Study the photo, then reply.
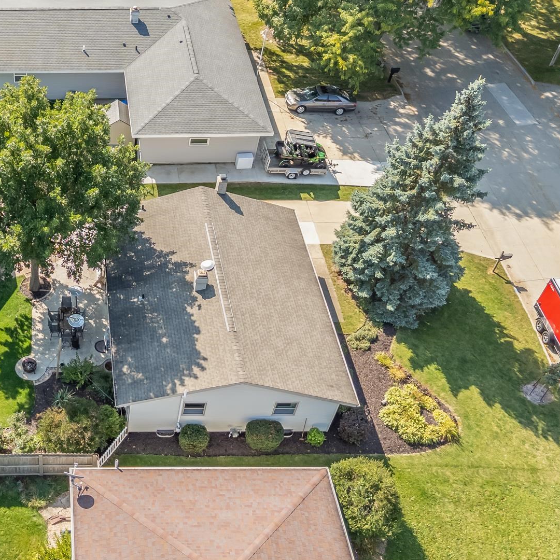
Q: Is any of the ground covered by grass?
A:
Yes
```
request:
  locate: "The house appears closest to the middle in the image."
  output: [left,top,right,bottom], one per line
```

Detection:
[100,174,362,441]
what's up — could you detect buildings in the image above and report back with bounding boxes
[67,464,356,560]
[0,0,276,164]
[100,174,362,441]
